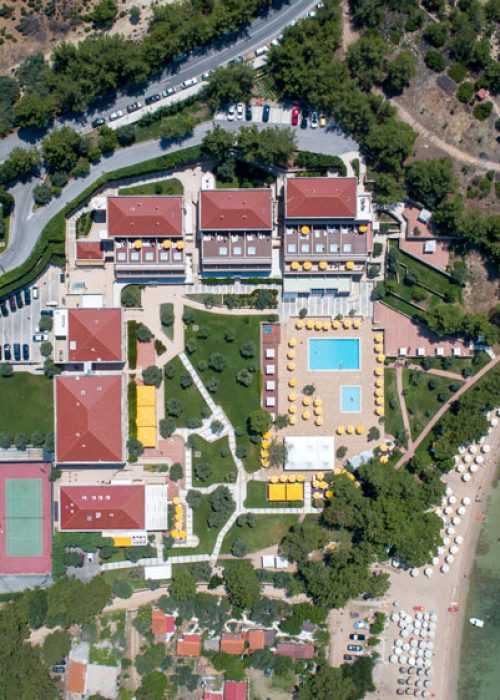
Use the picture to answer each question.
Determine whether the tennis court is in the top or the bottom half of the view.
bottom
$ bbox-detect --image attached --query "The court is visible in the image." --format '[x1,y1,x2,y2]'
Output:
[0,463,52,575]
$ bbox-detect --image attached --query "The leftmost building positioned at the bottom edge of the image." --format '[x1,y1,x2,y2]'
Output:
[66,636,90,694]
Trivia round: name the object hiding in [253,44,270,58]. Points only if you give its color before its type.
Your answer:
white vehicle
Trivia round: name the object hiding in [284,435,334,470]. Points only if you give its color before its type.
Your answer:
white tent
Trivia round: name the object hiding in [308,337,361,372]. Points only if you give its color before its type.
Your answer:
blue swimming pool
